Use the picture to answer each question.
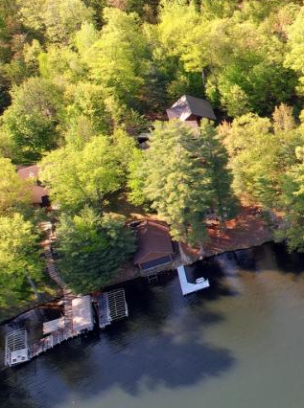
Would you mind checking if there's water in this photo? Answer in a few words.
Yes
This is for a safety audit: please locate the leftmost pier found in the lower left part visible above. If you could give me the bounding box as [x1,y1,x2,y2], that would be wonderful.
[29,288,96,361]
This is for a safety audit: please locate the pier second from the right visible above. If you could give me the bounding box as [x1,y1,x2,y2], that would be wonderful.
[97,290,114,329]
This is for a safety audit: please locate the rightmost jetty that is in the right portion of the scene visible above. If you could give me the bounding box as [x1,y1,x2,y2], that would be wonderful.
[178,266,209,296]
